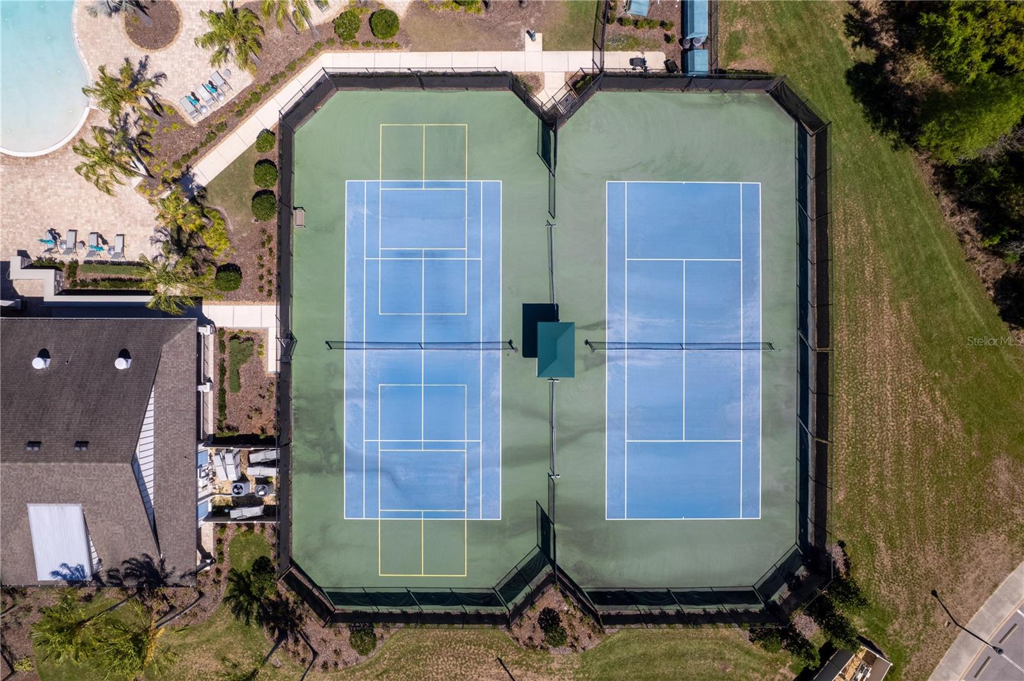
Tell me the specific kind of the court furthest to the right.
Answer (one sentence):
It looks like the court furthest to the right is a tennis court.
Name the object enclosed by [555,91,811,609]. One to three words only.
tennis court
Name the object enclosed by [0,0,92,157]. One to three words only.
swimming pool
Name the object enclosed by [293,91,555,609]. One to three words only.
tennis court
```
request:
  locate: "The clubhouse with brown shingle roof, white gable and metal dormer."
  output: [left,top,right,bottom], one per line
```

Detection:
[0,316,212,587]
